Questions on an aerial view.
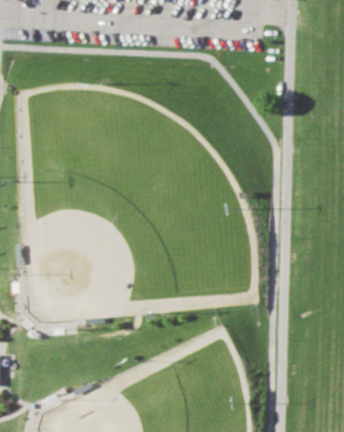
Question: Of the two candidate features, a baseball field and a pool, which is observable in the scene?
baseball field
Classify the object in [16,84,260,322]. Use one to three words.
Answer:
baseball field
